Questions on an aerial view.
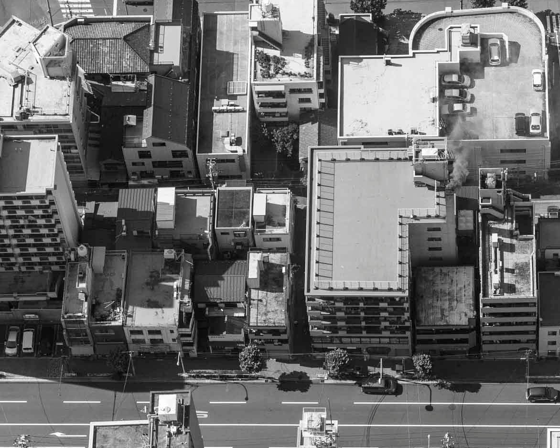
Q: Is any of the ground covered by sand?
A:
No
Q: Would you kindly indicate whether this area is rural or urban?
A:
urban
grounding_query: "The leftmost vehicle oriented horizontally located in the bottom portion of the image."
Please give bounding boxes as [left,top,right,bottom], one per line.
[364,377,400,396]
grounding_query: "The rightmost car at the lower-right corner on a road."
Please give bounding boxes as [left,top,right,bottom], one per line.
[526,386,559,402]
